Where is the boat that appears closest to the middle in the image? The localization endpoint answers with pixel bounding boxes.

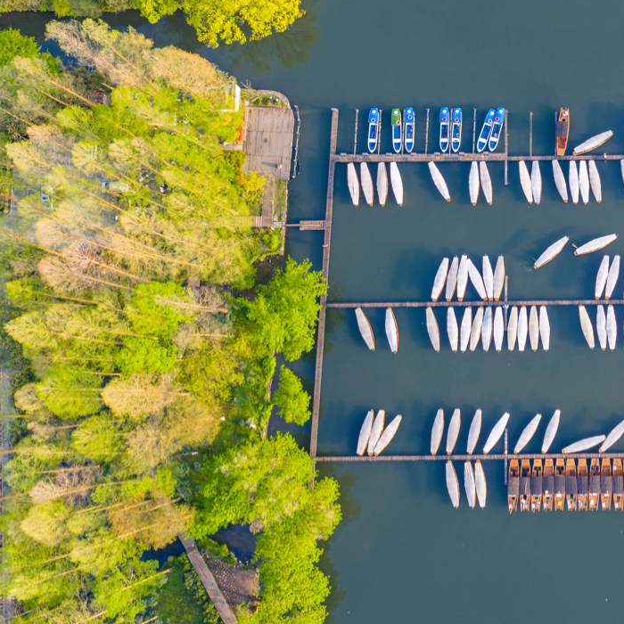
[357,300,377,350]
